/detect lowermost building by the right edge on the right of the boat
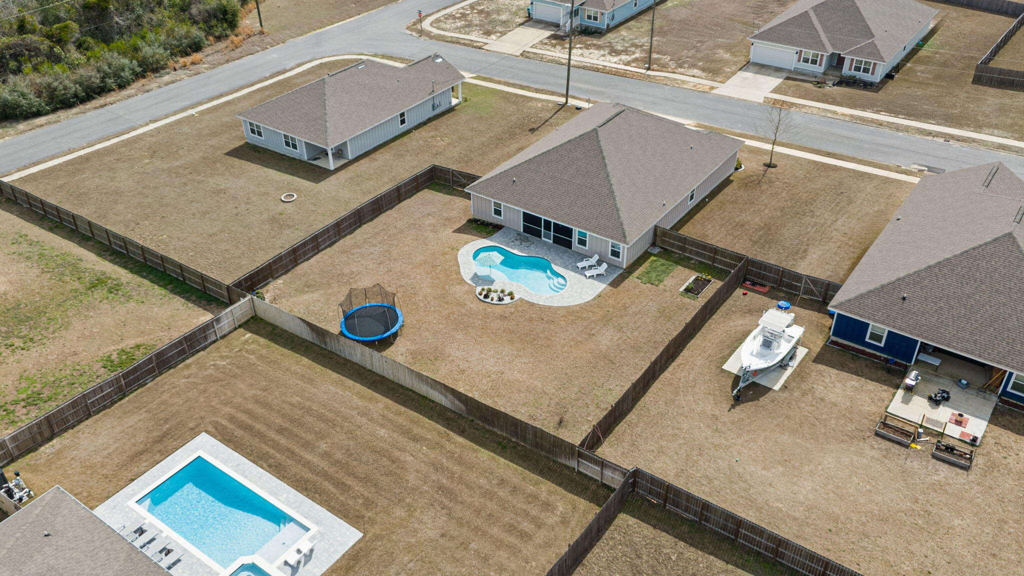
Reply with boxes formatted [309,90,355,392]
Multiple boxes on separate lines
[827,159,1024,407]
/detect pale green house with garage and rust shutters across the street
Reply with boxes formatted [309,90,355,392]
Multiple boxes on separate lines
[747,0,938,82]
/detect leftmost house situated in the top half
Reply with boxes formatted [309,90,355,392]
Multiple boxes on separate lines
[236,51,465,170]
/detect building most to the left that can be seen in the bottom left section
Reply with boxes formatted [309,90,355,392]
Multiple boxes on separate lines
[0,484,174,576]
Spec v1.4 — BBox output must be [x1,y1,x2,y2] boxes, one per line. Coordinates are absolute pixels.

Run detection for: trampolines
[337,284,403,349]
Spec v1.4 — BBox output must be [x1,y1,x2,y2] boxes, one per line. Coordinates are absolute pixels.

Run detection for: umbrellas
[477,245,508,277]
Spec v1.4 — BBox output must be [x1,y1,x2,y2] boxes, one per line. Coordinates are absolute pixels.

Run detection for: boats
[739,305,800,372]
